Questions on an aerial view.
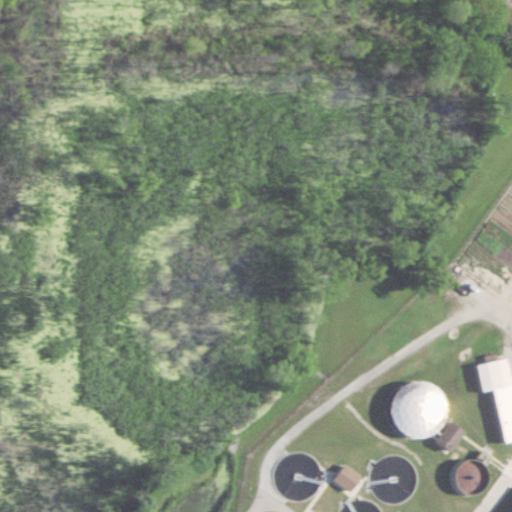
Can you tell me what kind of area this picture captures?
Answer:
industrial area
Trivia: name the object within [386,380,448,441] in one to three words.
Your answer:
storage tank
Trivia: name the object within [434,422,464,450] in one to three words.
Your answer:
building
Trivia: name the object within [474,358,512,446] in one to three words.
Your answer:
building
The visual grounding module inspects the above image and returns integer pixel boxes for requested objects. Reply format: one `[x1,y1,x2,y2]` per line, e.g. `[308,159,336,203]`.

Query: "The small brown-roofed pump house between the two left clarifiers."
[332,466,361,492]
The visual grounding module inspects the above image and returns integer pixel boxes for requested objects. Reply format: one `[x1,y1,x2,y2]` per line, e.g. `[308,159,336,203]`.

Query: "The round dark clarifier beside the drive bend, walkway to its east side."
[273,452,324,502]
